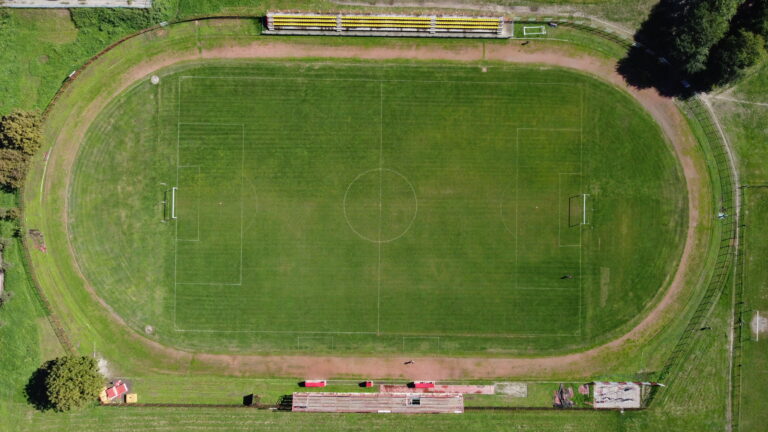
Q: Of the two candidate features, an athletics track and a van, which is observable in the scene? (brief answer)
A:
athletics track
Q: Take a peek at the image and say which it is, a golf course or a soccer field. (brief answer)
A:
soccer field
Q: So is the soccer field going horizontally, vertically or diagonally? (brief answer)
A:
horizontally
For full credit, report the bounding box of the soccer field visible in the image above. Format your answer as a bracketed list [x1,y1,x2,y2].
[68,62,687,356]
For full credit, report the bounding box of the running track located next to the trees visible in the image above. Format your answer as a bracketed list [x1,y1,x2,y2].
[42,35,713,381]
